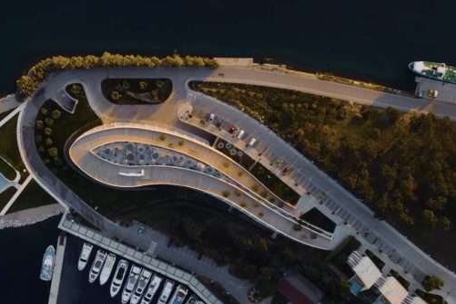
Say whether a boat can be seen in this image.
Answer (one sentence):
Yes, a boat is visible in the scene.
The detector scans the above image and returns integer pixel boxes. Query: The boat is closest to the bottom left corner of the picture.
[38,246,52,283]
